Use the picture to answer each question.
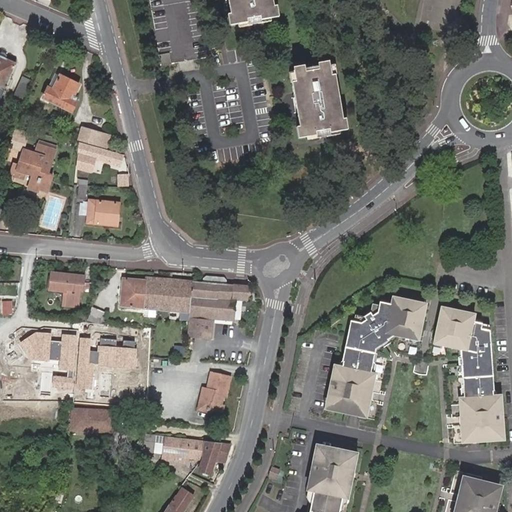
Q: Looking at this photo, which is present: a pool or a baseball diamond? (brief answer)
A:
pool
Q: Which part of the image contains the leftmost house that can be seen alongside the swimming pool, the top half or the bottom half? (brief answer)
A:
top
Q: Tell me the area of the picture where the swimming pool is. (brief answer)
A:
left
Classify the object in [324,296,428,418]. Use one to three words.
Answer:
building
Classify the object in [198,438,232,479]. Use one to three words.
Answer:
house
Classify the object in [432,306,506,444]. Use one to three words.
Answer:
building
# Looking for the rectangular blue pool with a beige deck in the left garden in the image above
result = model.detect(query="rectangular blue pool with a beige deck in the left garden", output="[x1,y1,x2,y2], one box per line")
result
[39,192,67,231]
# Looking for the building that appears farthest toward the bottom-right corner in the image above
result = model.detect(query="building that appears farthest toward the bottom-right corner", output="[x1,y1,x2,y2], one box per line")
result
[452,474,504,512]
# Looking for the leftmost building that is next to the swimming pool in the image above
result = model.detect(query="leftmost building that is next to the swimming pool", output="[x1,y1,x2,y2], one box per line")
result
[11,140,58,196]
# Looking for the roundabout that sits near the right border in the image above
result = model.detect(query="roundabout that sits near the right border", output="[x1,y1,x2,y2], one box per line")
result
[443,54,512,147]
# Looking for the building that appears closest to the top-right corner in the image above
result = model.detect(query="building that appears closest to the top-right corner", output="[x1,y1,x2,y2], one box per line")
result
[288,60,349,142]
